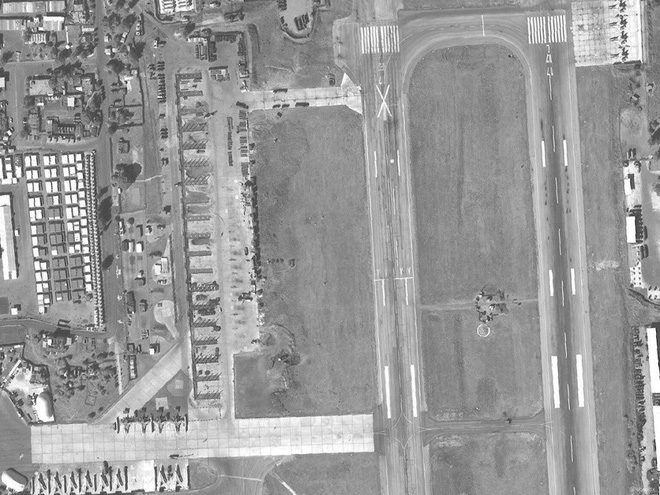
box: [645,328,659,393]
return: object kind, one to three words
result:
building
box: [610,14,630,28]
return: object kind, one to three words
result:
airplane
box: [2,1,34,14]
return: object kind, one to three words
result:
building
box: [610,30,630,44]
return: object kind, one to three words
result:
airplane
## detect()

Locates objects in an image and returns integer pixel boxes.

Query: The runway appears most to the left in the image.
[358,0,432,495]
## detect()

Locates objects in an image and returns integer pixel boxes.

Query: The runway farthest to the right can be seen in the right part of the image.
[520,0,600,495]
